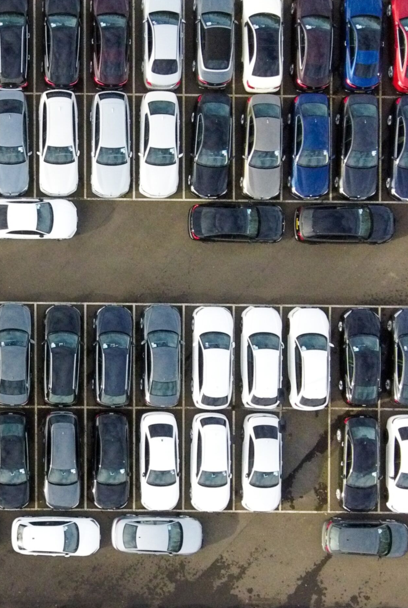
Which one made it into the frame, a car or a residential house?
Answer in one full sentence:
Of the two, only a car appears.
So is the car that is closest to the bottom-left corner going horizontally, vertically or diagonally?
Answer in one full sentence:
The car that is closest to the bottom-left corner is laid out horizontally.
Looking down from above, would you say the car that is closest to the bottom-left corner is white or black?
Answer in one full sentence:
The car that is closest to the bottom-left corner is white.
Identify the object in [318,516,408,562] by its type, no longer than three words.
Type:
car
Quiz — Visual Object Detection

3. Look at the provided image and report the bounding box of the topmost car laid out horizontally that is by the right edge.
[291,198,394,247]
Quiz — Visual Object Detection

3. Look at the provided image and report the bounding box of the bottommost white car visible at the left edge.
[11,514,99,560]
